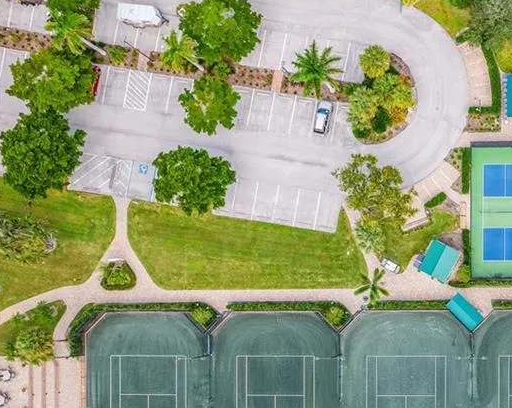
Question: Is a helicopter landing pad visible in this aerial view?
No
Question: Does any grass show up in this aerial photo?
Yes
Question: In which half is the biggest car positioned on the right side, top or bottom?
top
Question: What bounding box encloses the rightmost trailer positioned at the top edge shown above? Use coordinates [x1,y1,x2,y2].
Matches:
[116,2,170,28]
